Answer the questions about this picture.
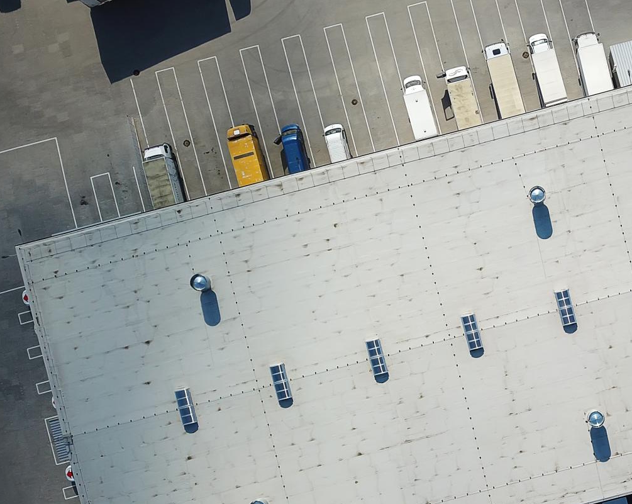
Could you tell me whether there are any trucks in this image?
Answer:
Yes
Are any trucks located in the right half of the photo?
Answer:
Yes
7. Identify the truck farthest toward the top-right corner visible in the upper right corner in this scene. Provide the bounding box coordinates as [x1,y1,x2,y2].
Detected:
[571,31,614,97]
